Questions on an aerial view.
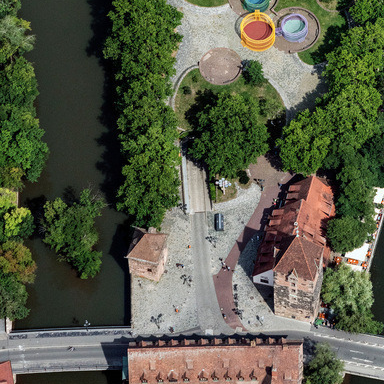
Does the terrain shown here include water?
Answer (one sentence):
Yes, there's water in this view.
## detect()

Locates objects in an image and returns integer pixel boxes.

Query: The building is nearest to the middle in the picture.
[126,228,169,279]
